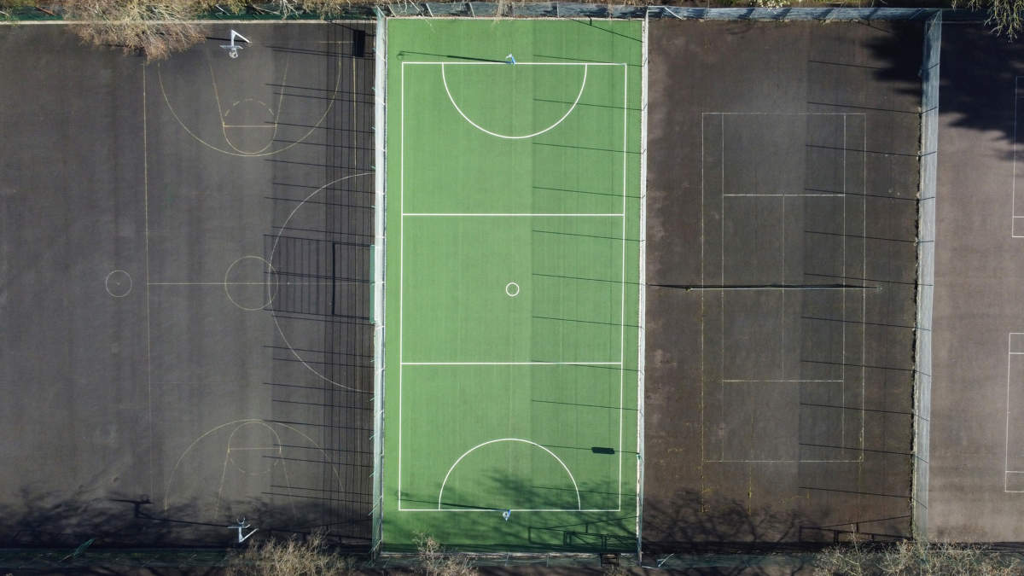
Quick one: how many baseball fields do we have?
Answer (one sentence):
Not a single baseball field can be seen.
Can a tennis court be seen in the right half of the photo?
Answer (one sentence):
Yes, looking in the right half of the photo, one can make out a tennis court.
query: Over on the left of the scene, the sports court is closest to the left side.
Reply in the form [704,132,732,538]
[0,19,386,554]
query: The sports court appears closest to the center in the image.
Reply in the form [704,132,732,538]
[385,20,642,555]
